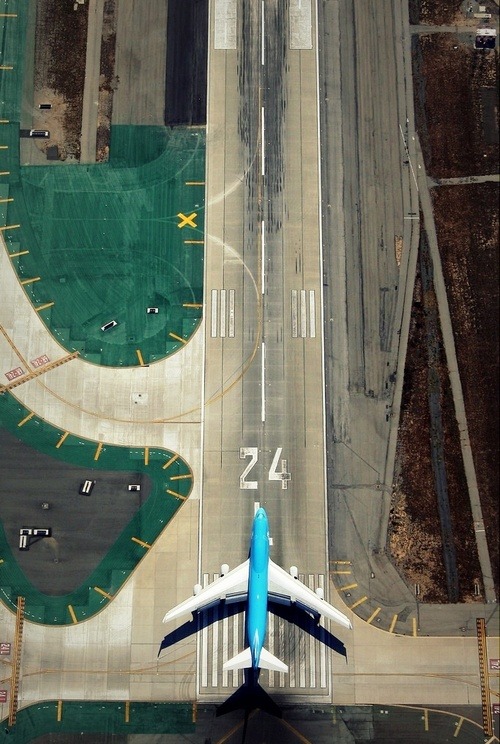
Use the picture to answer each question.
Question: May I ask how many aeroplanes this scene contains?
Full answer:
In total, there is 1 aeroplane in the scene.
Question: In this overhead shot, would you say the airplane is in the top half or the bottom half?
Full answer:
The airplane sits in the bottom half of the picture.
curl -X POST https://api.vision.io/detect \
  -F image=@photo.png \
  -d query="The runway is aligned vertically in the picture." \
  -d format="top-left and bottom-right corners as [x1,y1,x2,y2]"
[180,0,334,704]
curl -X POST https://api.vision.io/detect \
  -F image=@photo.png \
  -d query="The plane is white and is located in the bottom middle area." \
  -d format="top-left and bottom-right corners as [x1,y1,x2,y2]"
[161,508,350,672]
